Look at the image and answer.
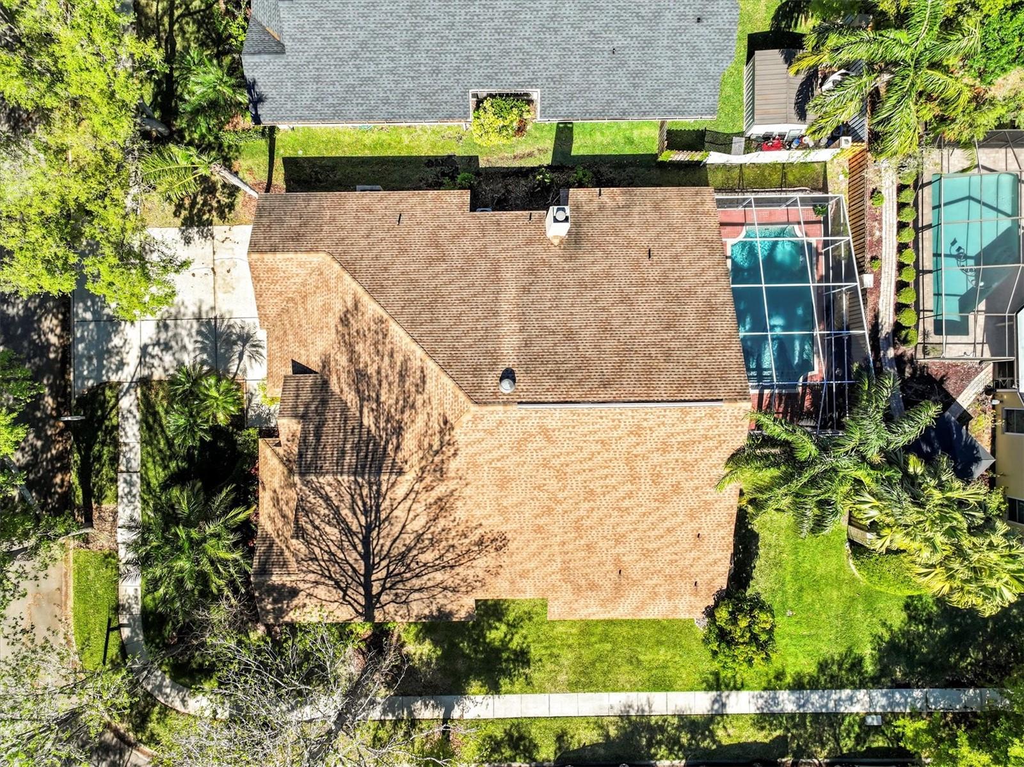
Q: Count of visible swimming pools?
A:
2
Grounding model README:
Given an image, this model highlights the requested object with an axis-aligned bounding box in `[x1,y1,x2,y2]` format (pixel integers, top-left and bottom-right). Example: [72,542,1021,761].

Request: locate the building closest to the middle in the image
[248,187,750,623]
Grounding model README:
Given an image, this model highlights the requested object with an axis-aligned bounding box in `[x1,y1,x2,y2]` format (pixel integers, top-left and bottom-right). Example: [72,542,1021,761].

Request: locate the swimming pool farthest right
[933,170,1022,338]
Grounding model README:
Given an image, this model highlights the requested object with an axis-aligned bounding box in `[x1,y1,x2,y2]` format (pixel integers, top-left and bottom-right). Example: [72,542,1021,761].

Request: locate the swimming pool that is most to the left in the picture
[726,220,821,395]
